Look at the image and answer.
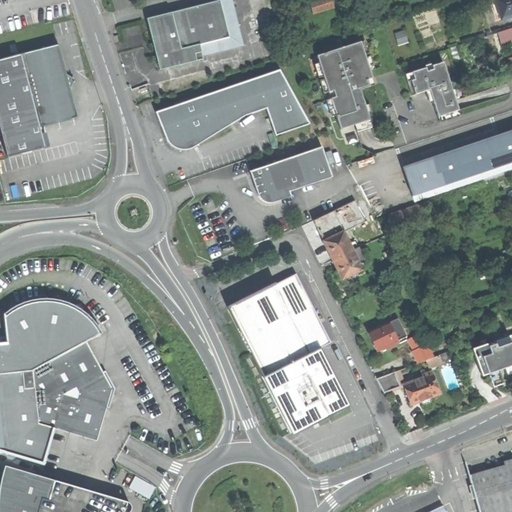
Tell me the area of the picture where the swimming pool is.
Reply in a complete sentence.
The swimming pool is in the bottom right part of the image.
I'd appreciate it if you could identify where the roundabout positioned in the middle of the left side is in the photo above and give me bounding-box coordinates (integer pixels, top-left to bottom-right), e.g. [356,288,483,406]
[114,192,154,232]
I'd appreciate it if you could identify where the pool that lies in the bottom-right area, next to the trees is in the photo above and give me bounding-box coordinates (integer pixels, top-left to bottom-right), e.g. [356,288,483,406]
[440,364,460,391]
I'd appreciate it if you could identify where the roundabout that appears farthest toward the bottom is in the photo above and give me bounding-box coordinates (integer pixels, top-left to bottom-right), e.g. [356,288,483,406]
[192,460,298,512]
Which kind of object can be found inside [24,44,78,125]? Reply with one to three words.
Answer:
building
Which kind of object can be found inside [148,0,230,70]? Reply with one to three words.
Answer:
building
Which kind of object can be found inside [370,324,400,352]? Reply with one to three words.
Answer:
house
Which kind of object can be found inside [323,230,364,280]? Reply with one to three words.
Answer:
house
